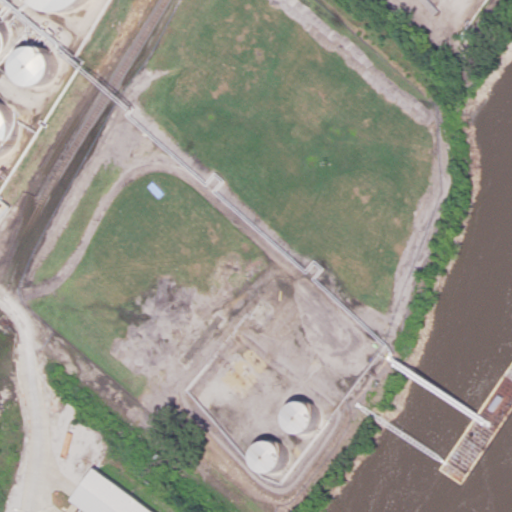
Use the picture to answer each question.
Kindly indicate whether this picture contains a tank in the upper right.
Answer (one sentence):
No, there is no tank in the upper right.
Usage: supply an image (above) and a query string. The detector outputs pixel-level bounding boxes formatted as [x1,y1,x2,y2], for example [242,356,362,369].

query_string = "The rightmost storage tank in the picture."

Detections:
[278,397,322,436]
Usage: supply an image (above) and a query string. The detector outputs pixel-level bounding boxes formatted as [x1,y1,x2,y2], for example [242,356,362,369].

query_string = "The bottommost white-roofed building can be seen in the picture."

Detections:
[69,467,148,512]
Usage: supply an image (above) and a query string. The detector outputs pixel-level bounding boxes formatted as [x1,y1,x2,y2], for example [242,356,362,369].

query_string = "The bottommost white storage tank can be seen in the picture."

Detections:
[245,436,289,474]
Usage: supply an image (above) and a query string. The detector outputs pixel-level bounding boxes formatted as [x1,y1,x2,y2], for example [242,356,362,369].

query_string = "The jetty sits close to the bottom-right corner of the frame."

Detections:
[440,364,512,485]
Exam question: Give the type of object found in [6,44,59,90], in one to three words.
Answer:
storage tank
